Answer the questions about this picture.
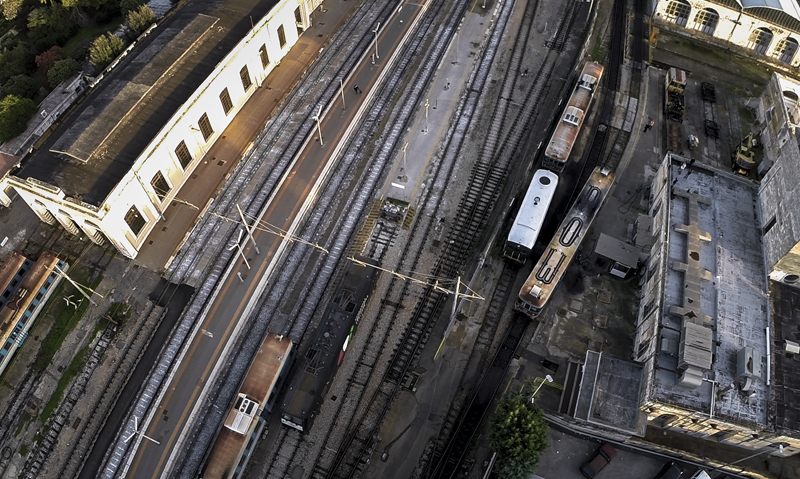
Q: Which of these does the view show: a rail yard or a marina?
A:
rail yard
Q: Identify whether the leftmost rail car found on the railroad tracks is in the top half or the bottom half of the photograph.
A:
bottom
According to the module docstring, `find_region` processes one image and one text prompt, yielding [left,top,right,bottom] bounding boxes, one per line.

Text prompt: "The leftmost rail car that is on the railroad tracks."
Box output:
[197,333,298,479]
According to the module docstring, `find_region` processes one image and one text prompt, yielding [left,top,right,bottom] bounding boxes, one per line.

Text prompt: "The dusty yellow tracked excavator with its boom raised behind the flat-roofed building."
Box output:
[734,123,764,171]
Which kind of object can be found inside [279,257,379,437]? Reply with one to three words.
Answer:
rail car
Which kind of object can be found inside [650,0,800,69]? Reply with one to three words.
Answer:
building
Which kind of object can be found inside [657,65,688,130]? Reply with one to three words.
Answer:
vehicle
